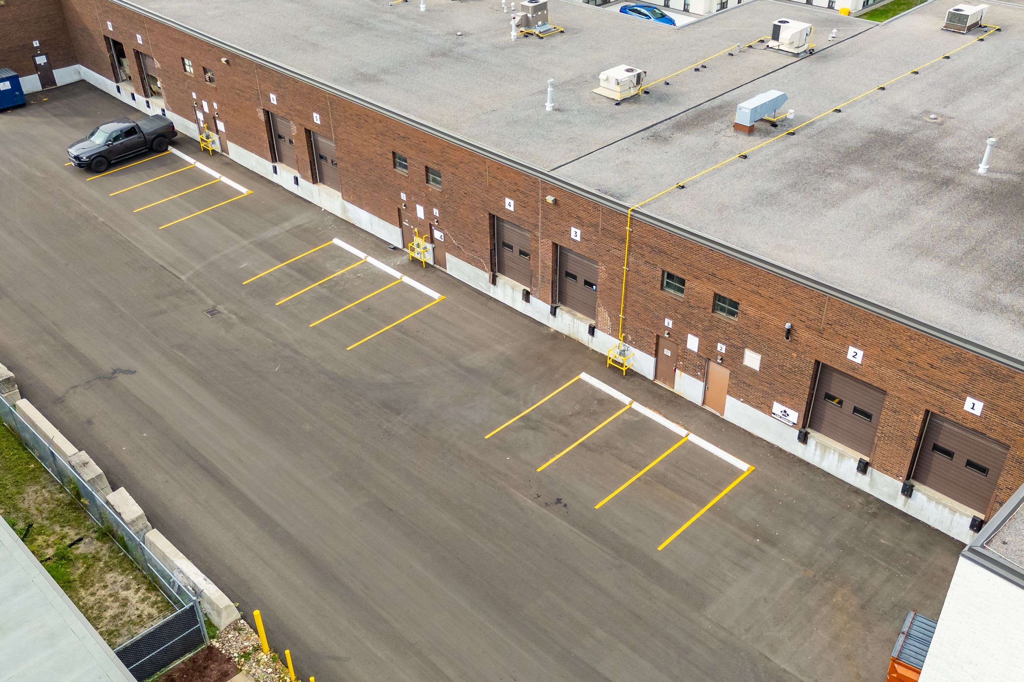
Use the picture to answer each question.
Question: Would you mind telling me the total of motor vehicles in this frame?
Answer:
2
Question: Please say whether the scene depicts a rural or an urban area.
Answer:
urban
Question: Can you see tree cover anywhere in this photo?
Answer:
No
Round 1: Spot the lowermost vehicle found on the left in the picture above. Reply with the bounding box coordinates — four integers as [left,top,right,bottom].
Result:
[63,115,178,173]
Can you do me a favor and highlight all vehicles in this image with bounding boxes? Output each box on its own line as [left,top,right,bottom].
[613,3,673,24]
[63,115,178,173]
